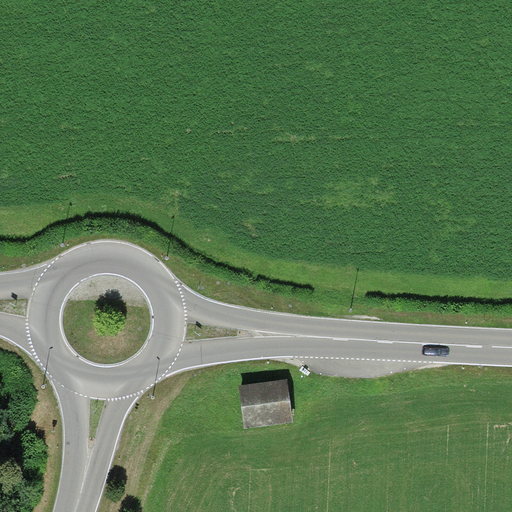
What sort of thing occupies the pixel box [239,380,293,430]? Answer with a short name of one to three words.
shed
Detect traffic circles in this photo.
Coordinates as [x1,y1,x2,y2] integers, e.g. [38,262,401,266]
[26,239,188,400]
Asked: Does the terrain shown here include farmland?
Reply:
Yes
